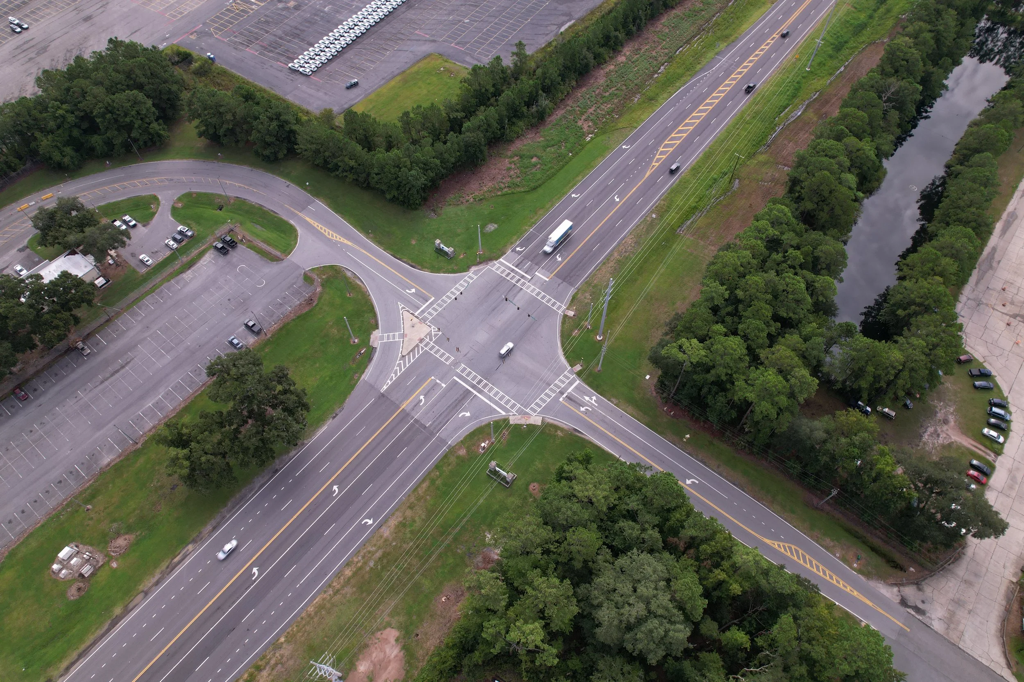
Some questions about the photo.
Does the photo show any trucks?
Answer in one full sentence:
Yes, looking at the shot, I can spot a truck.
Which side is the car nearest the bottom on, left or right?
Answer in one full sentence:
The car nearest the bottom is on the left side of the image.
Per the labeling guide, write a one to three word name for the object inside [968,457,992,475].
car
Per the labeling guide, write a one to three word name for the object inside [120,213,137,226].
vehicle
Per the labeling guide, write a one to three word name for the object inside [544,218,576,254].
truck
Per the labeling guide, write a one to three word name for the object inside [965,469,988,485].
car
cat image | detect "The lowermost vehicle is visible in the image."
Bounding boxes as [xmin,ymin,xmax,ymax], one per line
[216,538,239,561]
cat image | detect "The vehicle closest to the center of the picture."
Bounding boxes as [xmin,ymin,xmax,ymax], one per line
[498,342,514,356]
